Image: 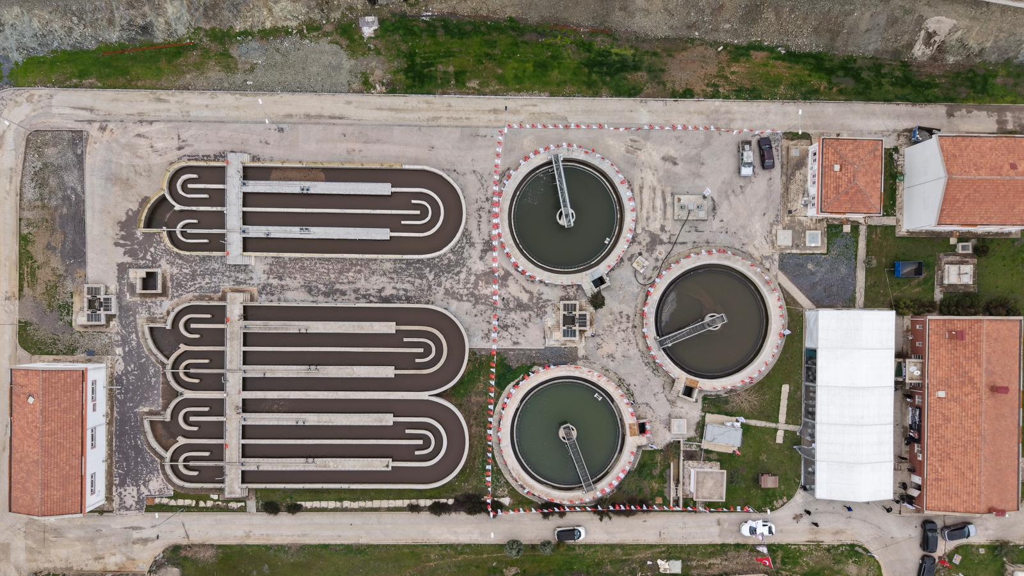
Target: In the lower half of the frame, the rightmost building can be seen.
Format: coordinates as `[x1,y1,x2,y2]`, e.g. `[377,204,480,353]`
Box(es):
[901,315,1022,517]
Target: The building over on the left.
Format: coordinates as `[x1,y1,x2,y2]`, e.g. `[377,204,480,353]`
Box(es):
[2,366,109,519]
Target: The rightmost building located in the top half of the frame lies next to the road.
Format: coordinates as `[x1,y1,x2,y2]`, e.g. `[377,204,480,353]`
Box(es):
[904,134,1024,230]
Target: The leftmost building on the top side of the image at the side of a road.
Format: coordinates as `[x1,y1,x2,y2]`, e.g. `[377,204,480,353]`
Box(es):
[808,138,884,216]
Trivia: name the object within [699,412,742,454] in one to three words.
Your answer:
shed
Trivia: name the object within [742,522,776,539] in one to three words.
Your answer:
car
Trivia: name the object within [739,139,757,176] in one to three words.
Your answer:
vehicle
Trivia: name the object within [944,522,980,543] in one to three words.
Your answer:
car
